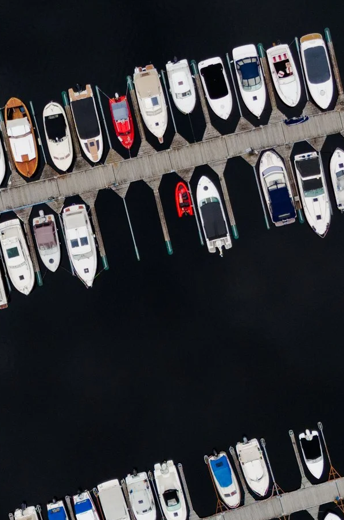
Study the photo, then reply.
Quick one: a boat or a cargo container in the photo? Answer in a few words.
boat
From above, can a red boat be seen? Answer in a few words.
Yes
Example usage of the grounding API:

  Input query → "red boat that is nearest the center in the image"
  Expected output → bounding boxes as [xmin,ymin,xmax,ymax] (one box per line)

[174,183,193,218]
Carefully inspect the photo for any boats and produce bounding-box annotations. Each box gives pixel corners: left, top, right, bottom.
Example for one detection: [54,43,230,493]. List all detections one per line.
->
[327,148,344,208]
[15,499,42,520]
[233,45,267,117]
[133,65,169,143]
[236,433,271,497]
[108,93,134,149]
[70,83,104,162]
[5,98,39,177]
[0,218,34,294]
[197,57,233,119]
[292,153,331,235]
[44,103,75,170]
[174,183,193,218]
[298,33,334,109]
[260,152,297,227]
[71,488,102,520]
[33,209,62,272]
[196,176,230,255]
[154,459,186,520]
[126,467,156,520]
[266,42,302,107]
[97,480,132,520]
[165,55,197,114]
[208,447,241,509]
[62,207,99,288]
[47,496,71,520]
[299,428,326,480]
